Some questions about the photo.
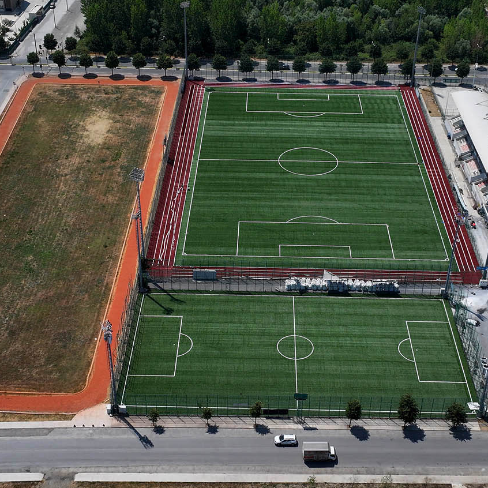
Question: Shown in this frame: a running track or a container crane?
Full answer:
This aerial view contains a running track.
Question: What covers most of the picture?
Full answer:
The bulk of the photo consists of grass.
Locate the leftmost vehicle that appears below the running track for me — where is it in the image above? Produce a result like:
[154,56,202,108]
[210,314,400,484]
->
[274,434,298,446]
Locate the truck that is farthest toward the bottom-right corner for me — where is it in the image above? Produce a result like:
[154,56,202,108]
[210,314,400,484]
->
[304,438,338,461]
